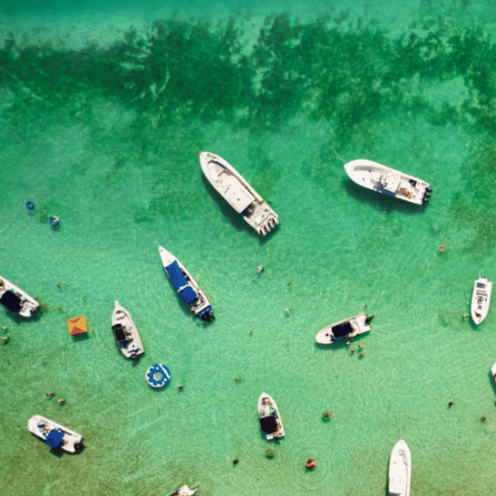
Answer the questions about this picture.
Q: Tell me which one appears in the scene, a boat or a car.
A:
boat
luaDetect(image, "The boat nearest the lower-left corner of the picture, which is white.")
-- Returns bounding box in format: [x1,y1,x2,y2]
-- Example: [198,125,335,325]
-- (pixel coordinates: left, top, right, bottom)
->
[30,415,90,451]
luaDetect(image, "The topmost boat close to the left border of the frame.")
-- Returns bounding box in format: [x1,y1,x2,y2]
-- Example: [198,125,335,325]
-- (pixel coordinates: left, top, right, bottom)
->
[0,276,49,319]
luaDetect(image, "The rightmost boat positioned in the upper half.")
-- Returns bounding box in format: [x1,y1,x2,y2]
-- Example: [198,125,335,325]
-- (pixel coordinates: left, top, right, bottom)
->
[333,152,434,206]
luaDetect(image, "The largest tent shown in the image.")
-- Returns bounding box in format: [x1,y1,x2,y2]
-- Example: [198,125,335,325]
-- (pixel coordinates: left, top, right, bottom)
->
[67,315,88,336]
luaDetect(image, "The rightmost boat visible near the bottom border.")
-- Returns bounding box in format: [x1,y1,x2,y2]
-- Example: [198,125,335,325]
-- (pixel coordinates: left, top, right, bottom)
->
[388,440,412,496]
